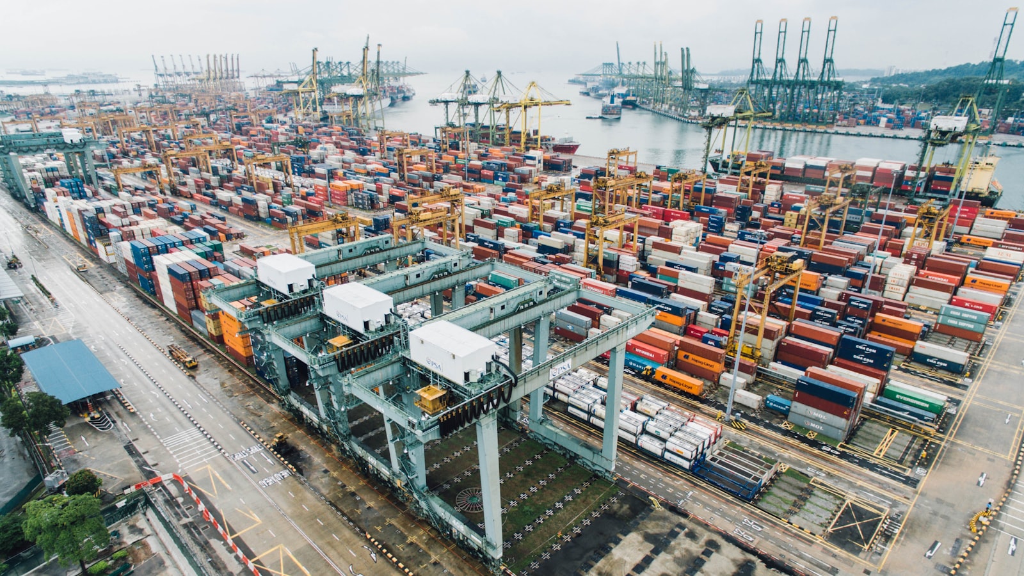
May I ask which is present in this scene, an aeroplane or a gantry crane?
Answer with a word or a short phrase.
gantry crane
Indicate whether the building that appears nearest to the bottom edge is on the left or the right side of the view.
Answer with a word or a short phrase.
left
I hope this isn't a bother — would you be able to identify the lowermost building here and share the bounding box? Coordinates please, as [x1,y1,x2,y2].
[37,465,71,496]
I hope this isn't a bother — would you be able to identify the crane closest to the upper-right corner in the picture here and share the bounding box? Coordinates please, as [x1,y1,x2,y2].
[968,8,1012,141]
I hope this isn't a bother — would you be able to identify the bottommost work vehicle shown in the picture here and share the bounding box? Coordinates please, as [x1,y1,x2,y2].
[265,432,293,449]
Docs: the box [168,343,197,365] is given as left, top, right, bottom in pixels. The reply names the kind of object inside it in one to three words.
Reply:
truck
